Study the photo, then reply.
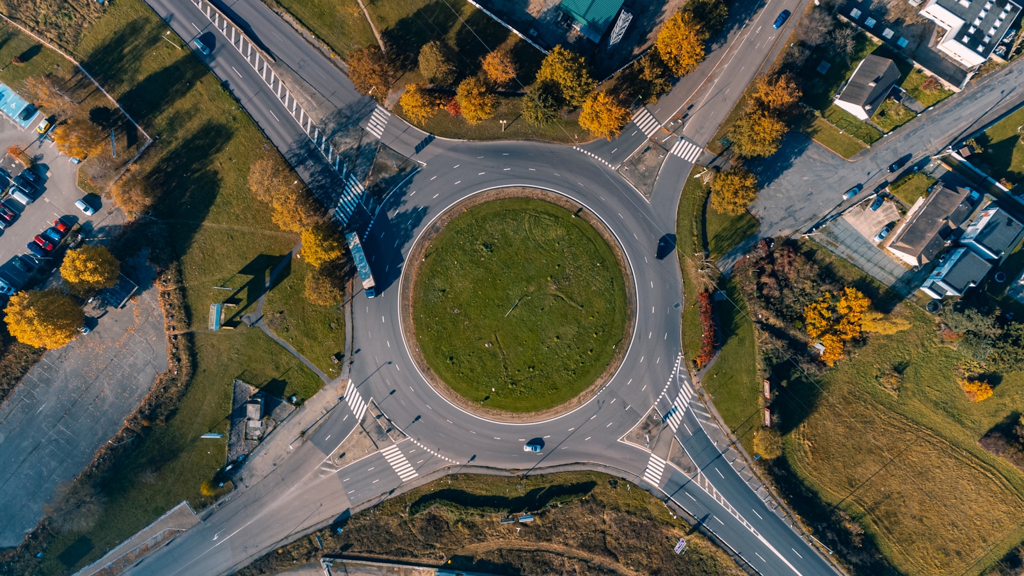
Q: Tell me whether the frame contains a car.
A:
Yes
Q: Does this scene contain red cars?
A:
Yes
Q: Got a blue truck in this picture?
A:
Yes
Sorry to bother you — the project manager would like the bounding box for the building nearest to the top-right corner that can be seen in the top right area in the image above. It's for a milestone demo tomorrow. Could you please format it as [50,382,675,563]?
[923,0,1023,67]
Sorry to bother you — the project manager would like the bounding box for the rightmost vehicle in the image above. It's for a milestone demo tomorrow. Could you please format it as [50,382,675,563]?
[963,185,981,202]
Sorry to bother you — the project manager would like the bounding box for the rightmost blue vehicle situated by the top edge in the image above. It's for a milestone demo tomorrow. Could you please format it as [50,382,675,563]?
[772,10,789,29]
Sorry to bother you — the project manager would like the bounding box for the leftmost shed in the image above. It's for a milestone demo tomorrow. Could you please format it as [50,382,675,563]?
[106,274,142,307]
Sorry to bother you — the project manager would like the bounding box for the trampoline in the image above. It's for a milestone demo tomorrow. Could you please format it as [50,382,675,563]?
[924,299,944,314]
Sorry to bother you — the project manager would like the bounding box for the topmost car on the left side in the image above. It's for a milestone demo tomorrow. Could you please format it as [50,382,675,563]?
[193,37,212,56]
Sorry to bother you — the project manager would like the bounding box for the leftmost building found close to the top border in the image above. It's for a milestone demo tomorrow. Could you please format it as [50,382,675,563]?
[559,0,625,49]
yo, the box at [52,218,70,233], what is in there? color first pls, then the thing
red car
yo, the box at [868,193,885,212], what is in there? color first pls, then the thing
blue car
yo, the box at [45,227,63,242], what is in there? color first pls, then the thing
blue car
